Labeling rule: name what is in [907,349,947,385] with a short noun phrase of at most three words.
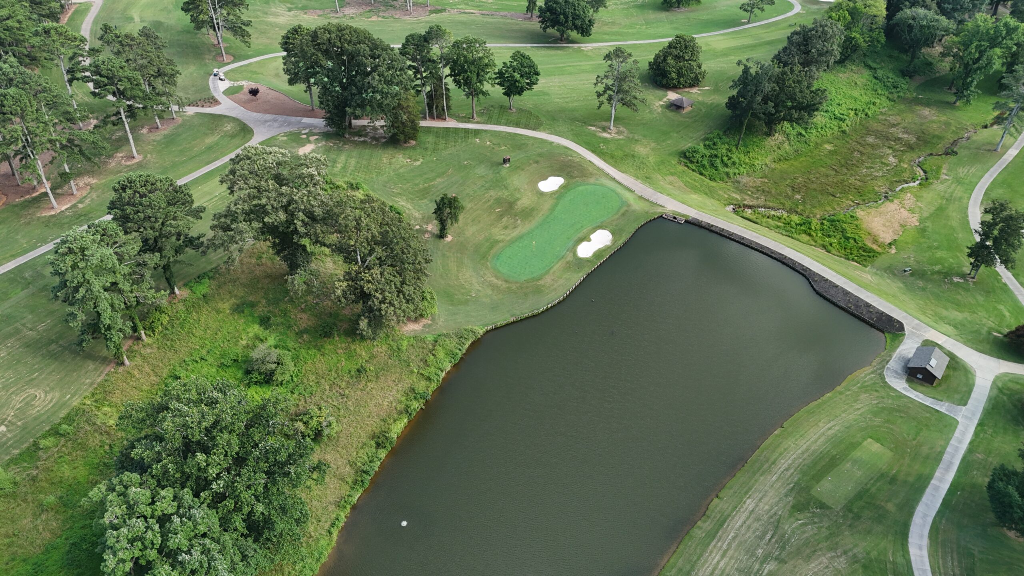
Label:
shed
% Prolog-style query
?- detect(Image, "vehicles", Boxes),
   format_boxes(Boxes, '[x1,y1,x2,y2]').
[217,72,226,82]
[212,68,218,77]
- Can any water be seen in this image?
Yes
